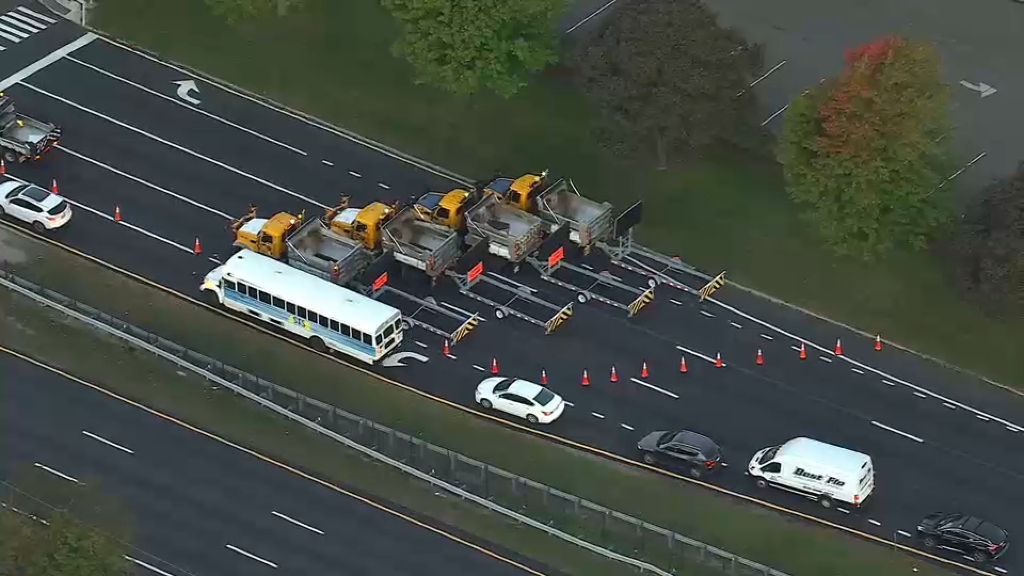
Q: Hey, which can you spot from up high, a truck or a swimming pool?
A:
truck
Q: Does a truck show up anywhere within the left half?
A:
Yes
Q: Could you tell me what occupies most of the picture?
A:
paved ground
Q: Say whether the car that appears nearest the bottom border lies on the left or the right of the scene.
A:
right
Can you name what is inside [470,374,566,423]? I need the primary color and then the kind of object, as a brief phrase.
white car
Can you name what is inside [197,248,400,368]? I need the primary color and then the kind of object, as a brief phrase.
white bus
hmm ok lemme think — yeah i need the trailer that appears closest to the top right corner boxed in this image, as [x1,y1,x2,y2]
[599,200,723,306]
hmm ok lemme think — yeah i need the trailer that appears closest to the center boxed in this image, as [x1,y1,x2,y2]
[447,231,571,338]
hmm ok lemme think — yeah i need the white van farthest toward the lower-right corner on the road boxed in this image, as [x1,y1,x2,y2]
[743,432,872,509]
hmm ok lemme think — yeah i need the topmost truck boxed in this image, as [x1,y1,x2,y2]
[0,103,59,163]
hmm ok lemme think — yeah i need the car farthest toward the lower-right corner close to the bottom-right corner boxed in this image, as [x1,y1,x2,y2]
[914,509,1012,562]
